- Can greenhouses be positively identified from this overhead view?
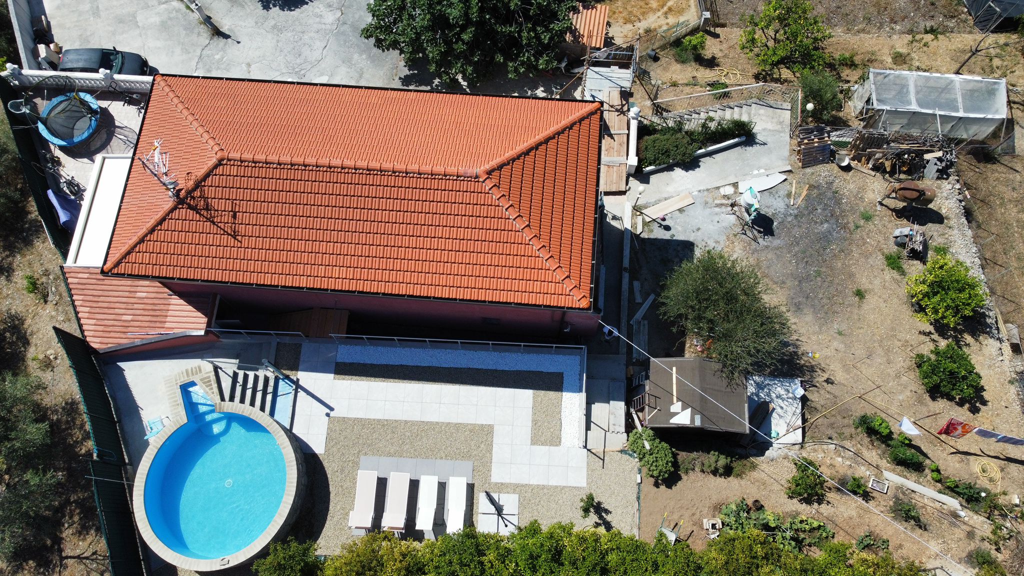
Yes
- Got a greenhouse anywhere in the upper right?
Yes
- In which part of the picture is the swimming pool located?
bottom left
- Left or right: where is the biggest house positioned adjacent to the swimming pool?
left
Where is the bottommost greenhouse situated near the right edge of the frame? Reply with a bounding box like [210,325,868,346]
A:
[834,69,1007,143]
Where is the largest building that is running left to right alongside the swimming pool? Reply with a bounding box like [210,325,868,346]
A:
[97,72,607,346]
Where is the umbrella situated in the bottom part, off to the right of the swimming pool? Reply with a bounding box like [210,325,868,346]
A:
[479,491,519,533]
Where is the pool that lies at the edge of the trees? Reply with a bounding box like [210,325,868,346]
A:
[131,366,311,572]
